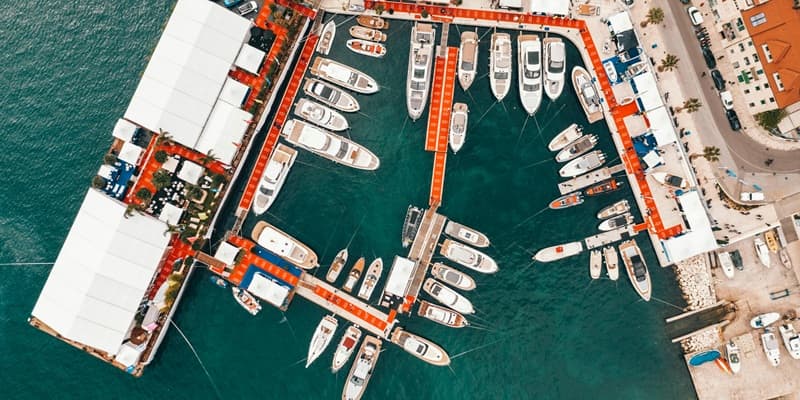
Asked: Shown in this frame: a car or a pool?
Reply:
car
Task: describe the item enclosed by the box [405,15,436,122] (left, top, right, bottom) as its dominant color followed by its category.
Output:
white boat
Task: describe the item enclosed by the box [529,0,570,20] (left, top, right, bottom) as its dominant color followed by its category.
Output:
white tent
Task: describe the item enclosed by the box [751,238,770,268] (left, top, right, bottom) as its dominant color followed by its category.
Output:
white boat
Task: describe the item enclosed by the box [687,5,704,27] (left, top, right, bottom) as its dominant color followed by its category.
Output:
white car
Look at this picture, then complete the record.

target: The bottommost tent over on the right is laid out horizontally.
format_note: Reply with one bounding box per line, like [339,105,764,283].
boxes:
[658,231,719,262]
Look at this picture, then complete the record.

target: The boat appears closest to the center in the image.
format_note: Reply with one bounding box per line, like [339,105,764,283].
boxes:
[402,207,423,246]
